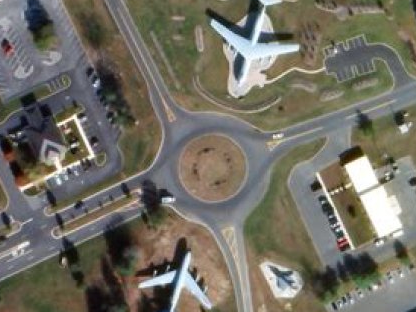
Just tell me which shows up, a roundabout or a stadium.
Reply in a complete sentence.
Visible in the photo is a roundabout.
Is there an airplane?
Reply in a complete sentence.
Yes, I can see an airplane in this picture.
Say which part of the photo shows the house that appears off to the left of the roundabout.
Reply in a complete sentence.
You can find the house that appears off to the left of the roundabout in the left area of the picture.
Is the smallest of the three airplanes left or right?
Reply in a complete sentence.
The smallest of the three airplanes appears in the right half of the scene.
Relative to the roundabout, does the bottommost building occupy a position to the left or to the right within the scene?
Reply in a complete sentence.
Looking at the picture, you'll find the bottommost building to the right of the roundabout.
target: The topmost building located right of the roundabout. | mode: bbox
[345,156,379,193]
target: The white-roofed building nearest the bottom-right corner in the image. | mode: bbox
[360,186,404,238]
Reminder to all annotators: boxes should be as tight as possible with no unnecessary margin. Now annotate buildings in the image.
[22,102,67,165]
[360,186,404,238]
[345,156,379,193]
